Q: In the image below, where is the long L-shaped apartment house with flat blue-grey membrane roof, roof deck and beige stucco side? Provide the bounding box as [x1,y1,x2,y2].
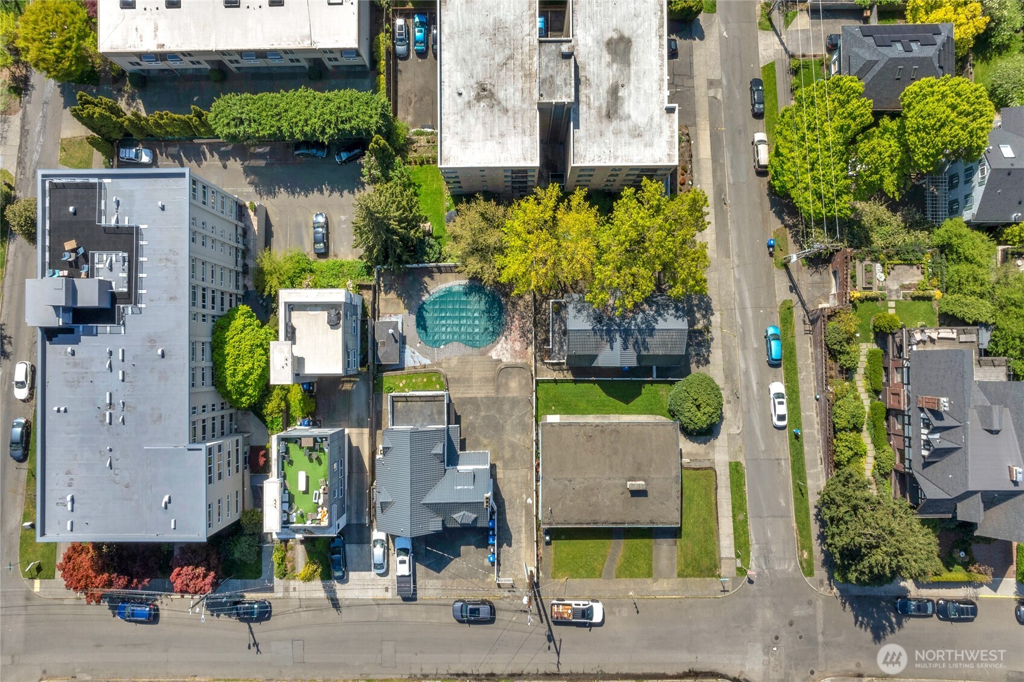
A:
[25,167,258,542]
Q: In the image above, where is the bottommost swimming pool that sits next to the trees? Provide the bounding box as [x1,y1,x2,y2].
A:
[402,275,513,365]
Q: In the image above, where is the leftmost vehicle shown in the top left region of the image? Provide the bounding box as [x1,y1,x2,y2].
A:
[114,144,160,166]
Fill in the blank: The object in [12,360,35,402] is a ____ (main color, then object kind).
white car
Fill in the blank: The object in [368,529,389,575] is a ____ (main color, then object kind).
white car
